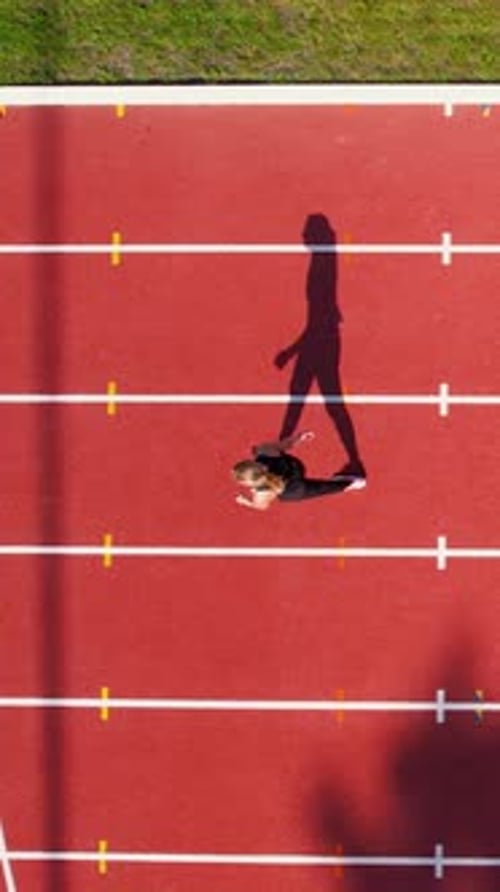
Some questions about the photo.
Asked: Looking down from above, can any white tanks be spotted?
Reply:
No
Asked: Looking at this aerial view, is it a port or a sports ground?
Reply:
sports ground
